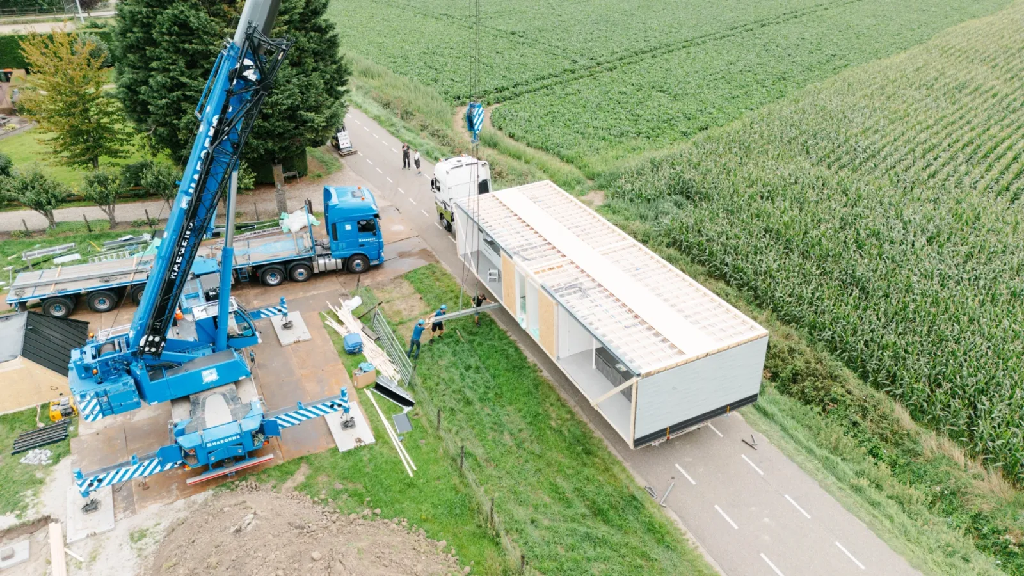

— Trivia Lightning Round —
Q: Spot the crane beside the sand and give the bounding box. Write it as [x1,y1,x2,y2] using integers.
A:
[66,0,356,509]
